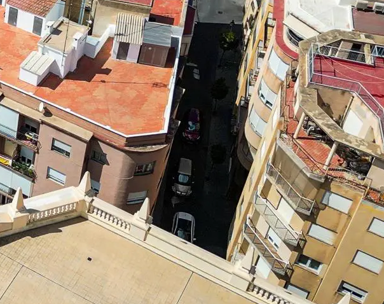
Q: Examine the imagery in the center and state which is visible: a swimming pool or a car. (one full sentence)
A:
Looking in the center, you will find a car.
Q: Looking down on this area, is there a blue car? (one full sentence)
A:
No, the photo shows no blue car.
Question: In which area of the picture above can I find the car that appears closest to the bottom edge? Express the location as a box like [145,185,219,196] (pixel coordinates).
[172,207,198,249]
